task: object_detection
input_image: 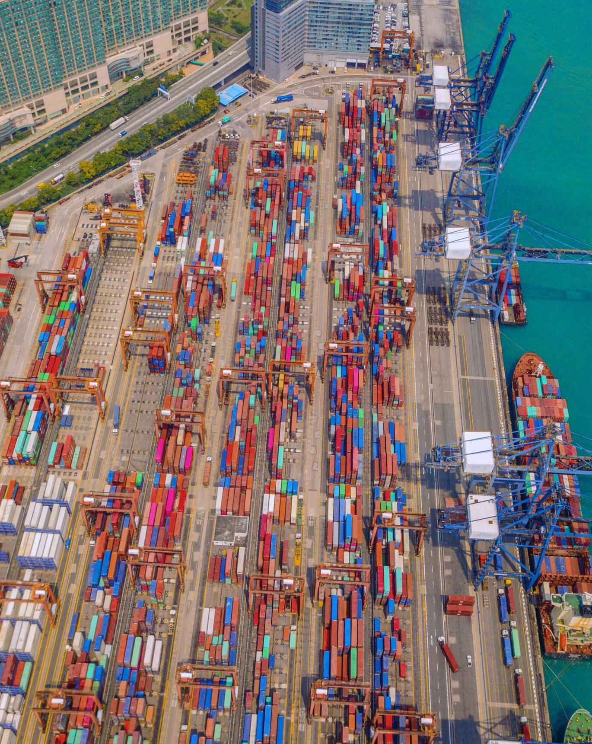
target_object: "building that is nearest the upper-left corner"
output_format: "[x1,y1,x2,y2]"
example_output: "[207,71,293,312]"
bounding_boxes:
[0,0,207,148]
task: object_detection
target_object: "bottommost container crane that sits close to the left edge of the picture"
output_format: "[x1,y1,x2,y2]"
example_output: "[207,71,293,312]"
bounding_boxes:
[29,688,106,739]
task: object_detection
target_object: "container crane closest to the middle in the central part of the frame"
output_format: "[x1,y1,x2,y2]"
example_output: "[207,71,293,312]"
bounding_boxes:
[267,356,315,404]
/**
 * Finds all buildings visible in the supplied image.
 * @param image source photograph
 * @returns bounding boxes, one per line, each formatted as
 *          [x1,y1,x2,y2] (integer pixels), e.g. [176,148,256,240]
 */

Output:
[219,84,248,111]
[0,0,207,148]
[213,515,248,546]
[256,0,377,82]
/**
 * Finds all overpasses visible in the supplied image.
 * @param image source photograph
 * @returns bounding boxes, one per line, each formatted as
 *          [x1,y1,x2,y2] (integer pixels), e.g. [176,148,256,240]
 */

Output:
[0,27,256,213]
